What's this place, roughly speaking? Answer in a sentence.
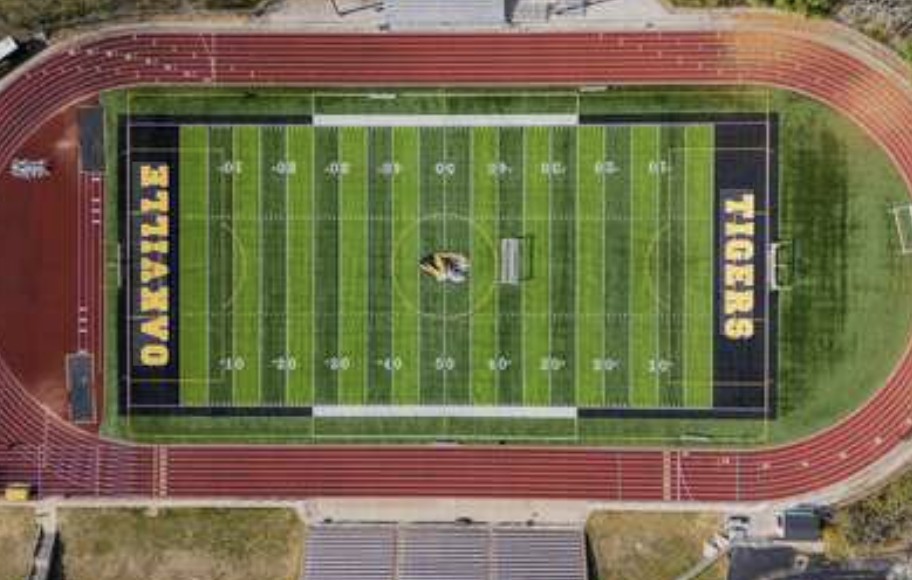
This image shows a sports ground.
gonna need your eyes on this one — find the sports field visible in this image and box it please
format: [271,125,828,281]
[104,84,781,448]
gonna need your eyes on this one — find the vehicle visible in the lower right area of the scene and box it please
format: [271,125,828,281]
[733,515,748,547]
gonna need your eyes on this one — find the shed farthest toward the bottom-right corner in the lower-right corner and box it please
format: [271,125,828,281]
[778,506,819,540]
